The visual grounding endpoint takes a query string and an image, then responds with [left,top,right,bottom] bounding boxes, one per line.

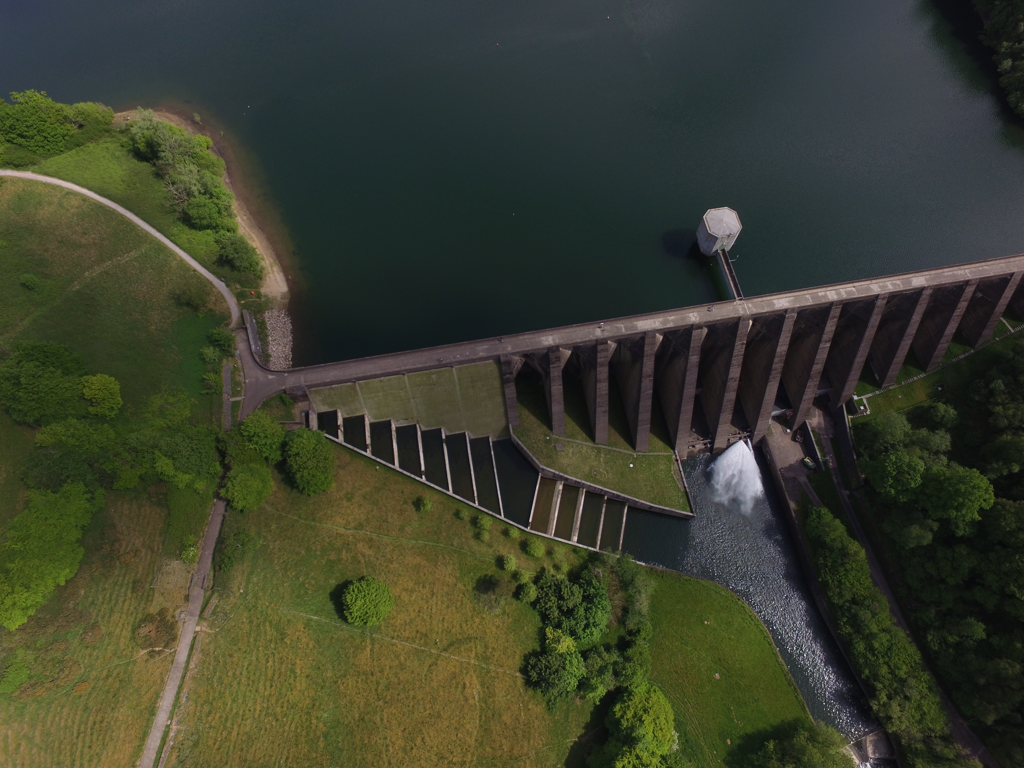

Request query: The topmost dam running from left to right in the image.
[270,254,1024,463]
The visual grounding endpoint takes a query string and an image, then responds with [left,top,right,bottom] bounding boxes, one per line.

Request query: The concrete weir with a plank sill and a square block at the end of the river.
[844,729,894,768]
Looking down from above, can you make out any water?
Yes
